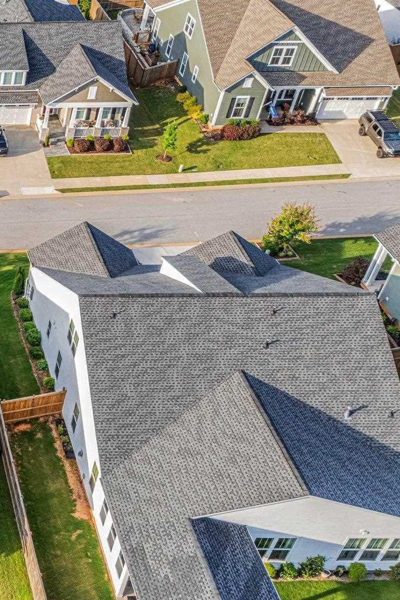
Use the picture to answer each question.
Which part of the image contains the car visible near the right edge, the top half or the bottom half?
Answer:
top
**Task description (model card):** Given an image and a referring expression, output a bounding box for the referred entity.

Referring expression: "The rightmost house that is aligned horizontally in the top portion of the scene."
[133,0,400,124]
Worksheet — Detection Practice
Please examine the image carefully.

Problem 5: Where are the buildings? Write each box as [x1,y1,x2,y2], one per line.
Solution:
[133,0,400,124]
[19,217,400,600]
[0,0,141,136]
